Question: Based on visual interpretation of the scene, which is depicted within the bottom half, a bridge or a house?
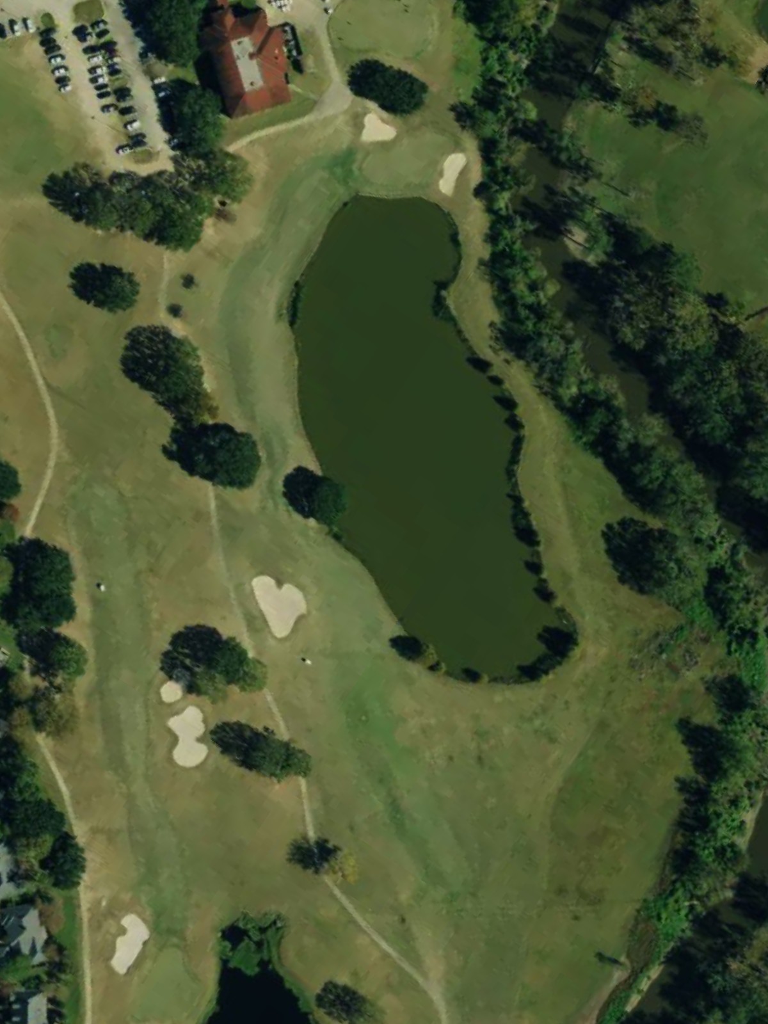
house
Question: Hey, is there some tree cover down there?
Yes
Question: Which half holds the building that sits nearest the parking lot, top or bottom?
top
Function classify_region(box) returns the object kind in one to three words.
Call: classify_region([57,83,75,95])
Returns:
vehicle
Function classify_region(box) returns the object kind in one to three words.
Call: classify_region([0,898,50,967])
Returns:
house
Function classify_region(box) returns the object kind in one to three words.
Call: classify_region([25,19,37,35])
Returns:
vehicle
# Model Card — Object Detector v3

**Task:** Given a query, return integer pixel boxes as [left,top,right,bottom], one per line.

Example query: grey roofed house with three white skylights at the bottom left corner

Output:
[7,993,46,1024]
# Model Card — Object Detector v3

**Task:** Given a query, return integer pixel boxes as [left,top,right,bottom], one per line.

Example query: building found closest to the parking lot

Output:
[207,0,291,116]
